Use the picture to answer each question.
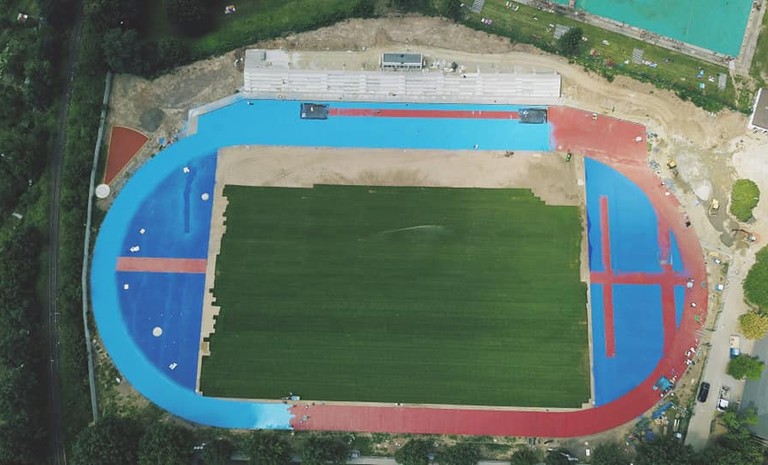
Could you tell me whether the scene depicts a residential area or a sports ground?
sports ground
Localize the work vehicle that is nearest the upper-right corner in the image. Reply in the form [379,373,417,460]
[666,157,681,177]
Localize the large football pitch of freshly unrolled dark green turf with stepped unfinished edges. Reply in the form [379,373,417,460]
[196,146,596,412]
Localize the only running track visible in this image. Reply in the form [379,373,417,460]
[89,99,708,437]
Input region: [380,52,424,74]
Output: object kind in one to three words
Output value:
building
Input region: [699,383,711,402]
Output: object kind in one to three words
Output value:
vehicle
